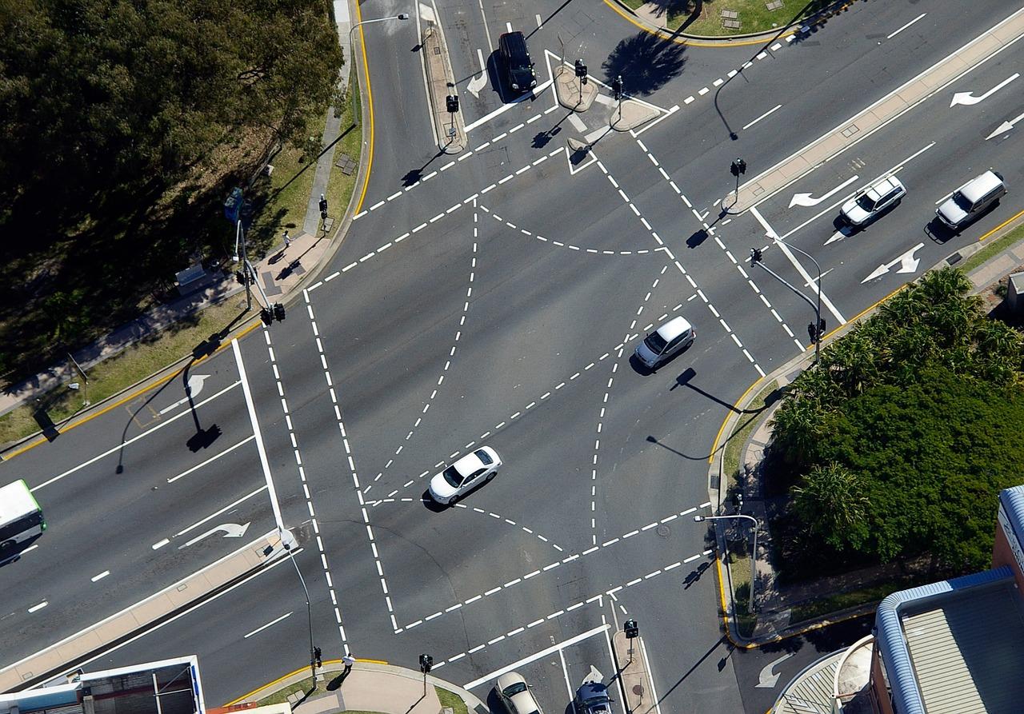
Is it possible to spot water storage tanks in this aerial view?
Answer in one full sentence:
No, no water storage tank can be seen from above.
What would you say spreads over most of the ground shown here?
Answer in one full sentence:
Most of the picture is covered by paved ground.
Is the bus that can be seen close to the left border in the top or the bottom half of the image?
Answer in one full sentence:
It is in the bottom half that the bus that can be seen close to the left border appears.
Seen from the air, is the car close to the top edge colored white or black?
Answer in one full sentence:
From above, the car close to the top edge appears black.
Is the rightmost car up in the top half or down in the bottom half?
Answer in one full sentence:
The rightmost car sits in the top half of the picture.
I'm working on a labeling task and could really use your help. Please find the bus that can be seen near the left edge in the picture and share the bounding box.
[0,480,48,561]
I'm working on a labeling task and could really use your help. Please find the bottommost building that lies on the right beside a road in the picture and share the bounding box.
[773,562,1024,714]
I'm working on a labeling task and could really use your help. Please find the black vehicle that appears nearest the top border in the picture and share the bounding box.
[495,20,539,91]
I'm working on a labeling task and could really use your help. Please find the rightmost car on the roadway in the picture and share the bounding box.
[930,166,1009,238]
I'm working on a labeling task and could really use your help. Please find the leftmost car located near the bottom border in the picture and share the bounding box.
[499,673,549,714]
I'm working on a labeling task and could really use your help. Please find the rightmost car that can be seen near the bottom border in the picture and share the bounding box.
[577,683,616,714]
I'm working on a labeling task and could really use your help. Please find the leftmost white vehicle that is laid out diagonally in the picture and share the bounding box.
[425,444,502,507]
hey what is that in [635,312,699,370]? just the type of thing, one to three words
car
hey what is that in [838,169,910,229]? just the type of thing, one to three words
car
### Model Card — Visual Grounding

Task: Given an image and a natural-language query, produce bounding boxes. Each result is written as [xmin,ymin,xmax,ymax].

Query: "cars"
[930,166,1009,238]
[635,312,699,370]
[499,673,549,714]
[425,444,502,507]
[495,20,539,91]
[838,169,910,229]
[577,683,616,714]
